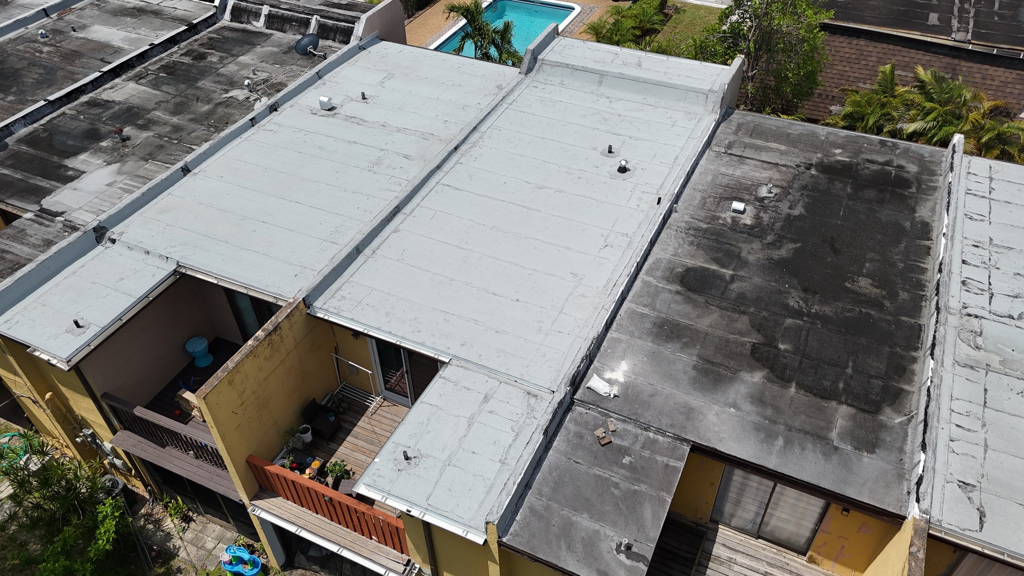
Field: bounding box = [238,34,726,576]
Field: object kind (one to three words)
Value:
house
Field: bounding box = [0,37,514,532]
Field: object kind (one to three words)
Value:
house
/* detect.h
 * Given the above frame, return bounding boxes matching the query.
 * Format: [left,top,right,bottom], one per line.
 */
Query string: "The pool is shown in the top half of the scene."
[430,0,581,65]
